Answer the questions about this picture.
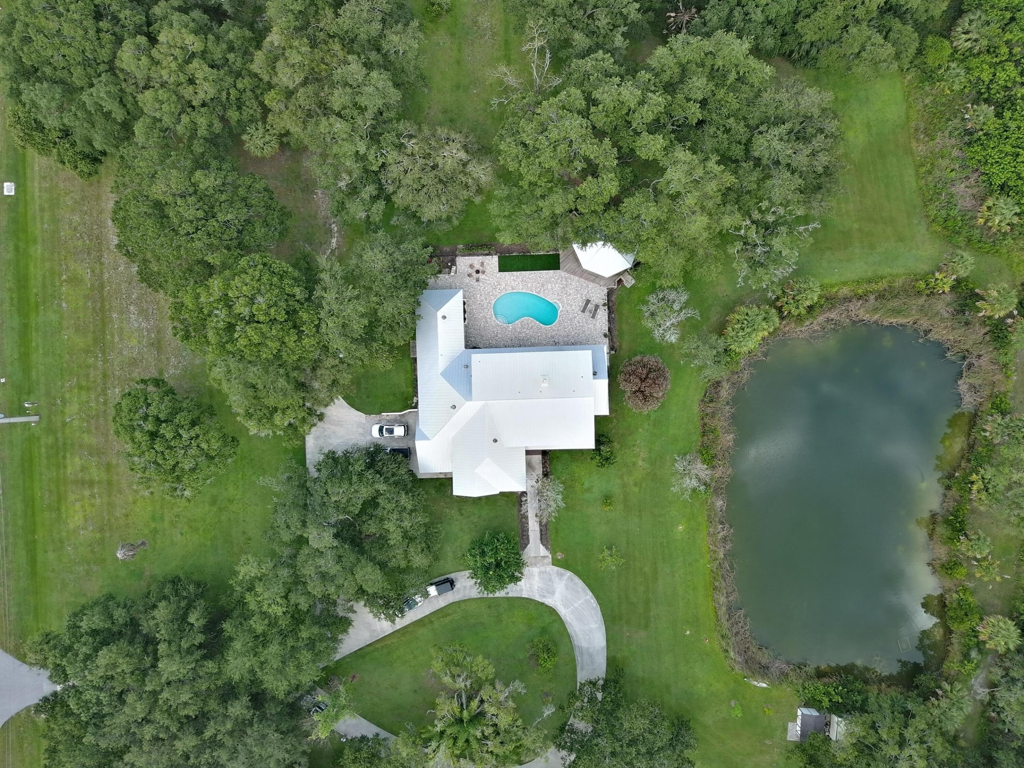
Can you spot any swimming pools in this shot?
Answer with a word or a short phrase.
Yes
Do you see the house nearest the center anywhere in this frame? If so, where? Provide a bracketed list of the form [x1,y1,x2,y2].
[415,289,609,497]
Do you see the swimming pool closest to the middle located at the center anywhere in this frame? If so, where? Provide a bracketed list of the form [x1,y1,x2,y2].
[491,290,563,327]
